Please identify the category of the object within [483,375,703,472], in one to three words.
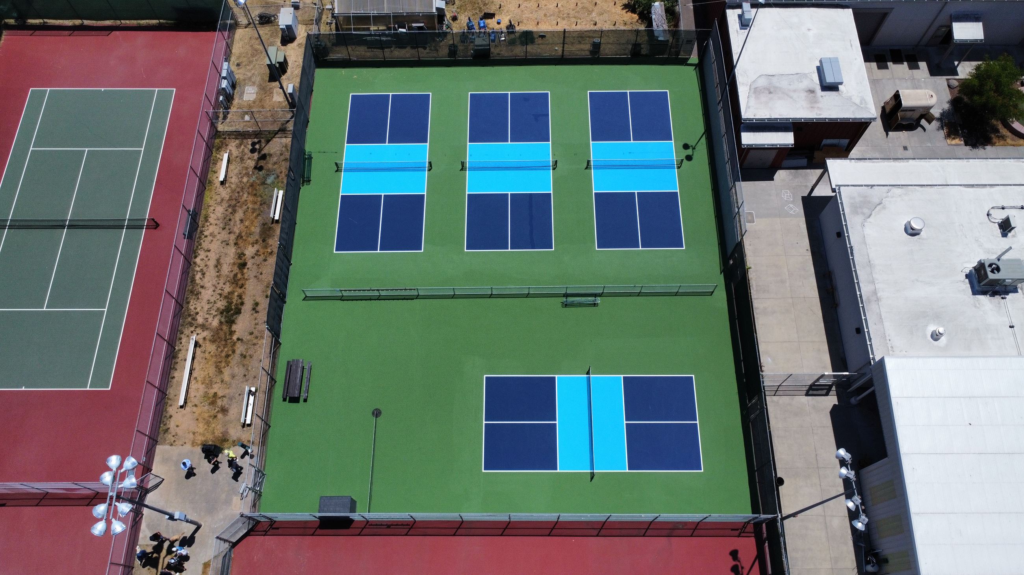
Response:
sports court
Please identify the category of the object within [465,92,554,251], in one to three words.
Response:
sports court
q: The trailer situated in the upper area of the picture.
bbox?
[876,90,940,128]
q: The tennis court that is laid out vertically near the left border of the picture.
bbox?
[0,88,175,390]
